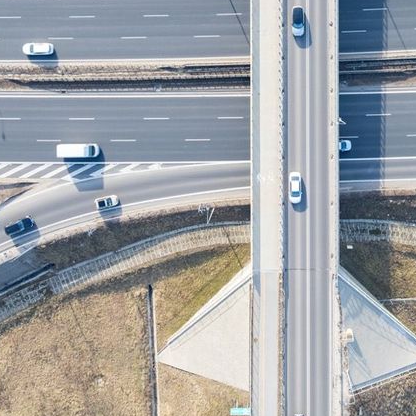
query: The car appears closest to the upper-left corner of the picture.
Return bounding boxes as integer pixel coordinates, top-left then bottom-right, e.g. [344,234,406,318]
[25,42,54,56]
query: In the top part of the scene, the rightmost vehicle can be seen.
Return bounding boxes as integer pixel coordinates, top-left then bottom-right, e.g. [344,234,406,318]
[339,140,354,153]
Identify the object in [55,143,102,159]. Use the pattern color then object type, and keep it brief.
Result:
white vehicle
